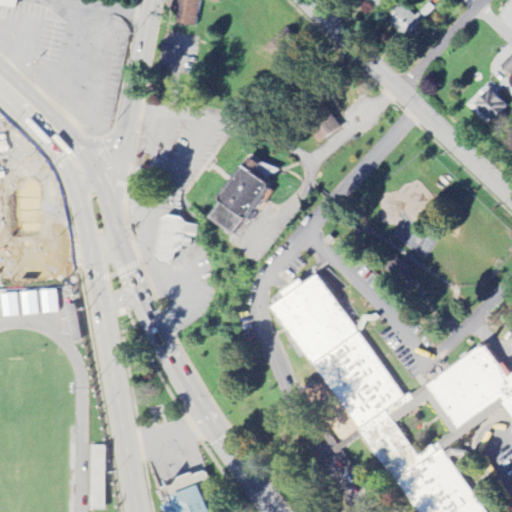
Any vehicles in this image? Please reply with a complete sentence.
Yes, there's a vehicle here.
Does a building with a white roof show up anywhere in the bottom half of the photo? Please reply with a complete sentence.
Yes, looking in the bottom half of the photo, one can make out a building with a white roof.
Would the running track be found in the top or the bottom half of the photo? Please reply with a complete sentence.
The bottom half of the photo is where the running track is.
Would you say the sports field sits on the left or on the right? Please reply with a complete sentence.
You can find the sports field on the left side of the picture.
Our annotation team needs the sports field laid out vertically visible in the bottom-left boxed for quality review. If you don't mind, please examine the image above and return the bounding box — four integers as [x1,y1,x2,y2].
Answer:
[0,330,75,512]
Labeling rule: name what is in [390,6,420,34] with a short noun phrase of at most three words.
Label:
house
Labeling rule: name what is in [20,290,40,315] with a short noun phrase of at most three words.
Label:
shed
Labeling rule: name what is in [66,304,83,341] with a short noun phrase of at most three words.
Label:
building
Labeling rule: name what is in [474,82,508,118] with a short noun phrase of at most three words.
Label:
house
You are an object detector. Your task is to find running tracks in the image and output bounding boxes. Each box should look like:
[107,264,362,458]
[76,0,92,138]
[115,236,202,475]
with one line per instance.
[0,314,90,512]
